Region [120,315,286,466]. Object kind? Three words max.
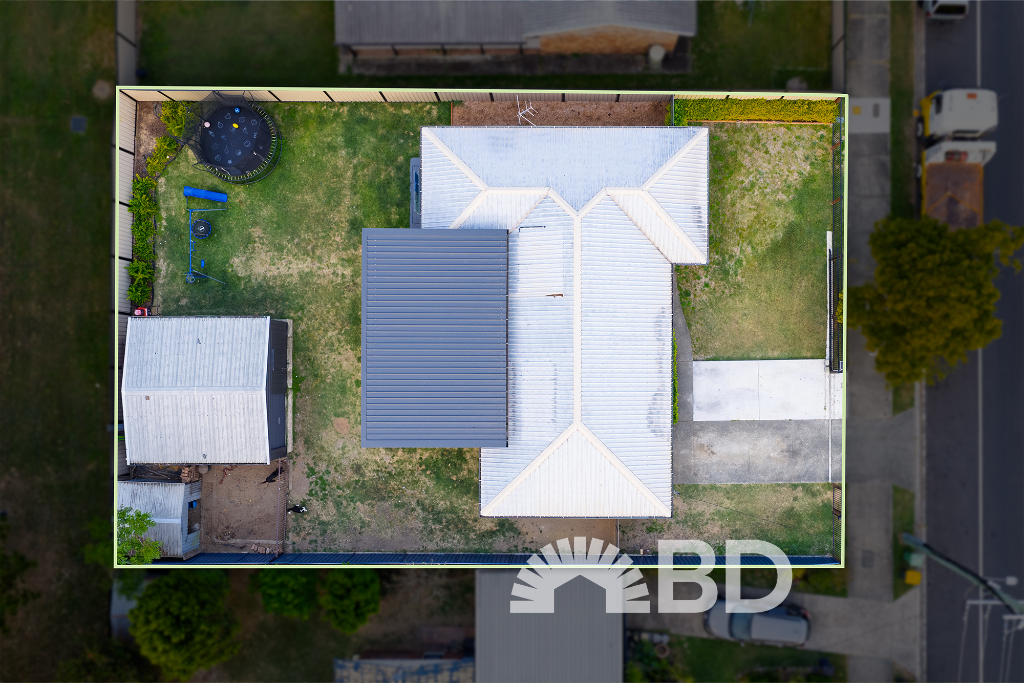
shed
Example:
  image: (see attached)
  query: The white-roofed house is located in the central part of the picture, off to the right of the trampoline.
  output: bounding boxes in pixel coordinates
[418,123,711,520]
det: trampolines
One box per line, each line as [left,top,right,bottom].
[181,90,282,184]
